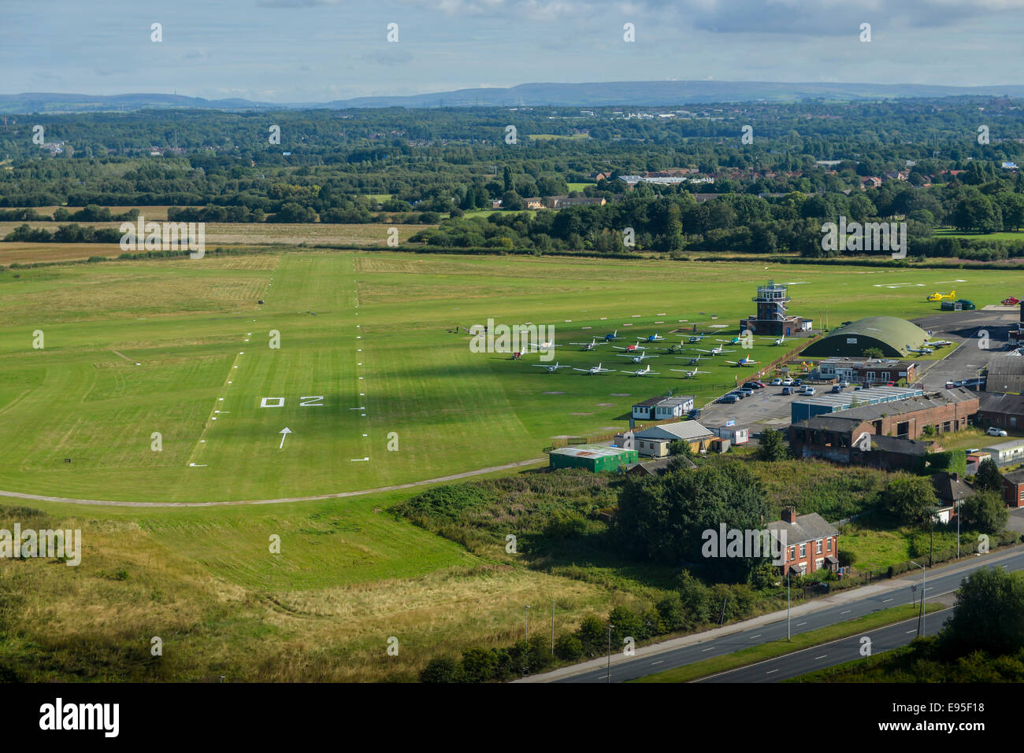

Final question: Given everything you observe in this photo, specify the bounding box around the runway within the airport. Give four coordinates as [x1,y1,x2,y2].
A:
[187,256,376,470]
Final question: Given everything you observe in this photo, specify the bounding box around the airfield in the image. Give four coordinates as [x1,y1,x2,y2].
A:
[0,252,1024,507]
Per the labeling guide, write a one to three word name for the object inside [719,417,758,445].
building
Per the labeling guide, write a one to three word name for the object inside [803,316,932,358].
hangar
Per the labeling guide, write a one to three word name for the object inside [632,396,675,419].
building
